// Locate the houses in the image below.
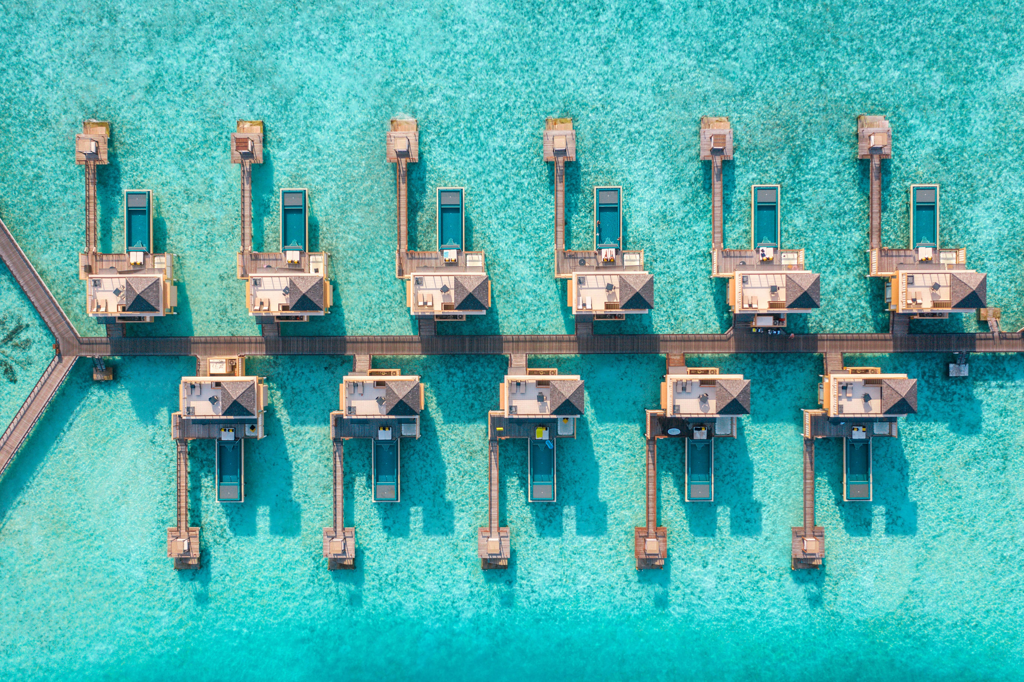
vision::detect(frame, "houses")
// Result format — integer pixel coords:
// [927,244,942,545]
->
[864,247,987,322]
[488,366,585,440]
[329,367,426,441]
[236,250,334,325]
[554,248,654,323]
[170,356,269,442]
[643,365,750,440]
[709,248,820,328]
[78,251,180,325]
[798,364,917,439]
[395,249,492,324]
